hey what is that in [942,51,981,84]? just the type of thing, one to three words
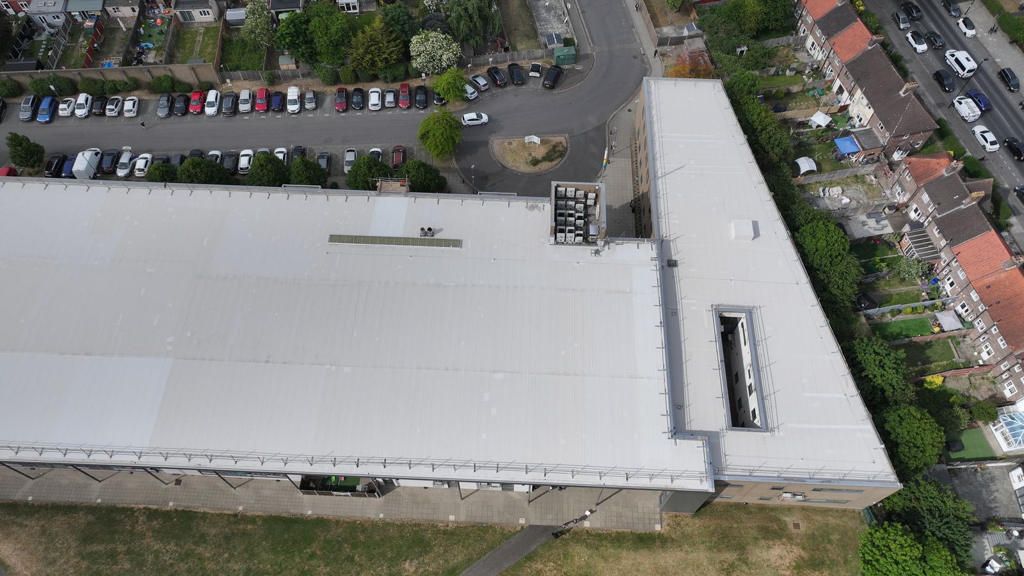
vehicle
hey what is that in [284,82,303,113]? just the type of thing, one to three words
vehicle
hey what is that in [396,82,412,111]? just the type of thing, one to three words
car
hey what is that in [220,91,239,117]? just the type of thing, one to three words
car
